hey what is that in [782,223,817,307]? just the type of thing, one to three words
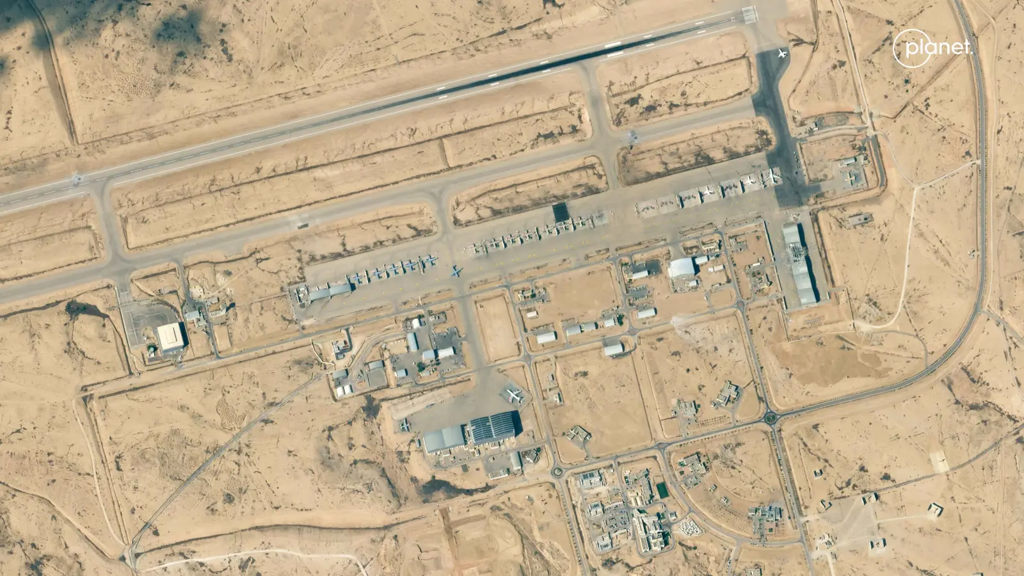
hangar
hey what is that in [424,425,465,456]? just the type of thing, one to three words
hangar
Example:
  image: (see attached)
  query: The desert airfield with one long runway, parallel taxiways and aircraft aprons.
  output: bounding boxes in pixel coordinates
[0,0,868,432]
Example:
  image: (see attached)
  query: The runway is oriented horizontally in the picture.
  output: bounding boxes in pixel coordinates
[0,0,788,219]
